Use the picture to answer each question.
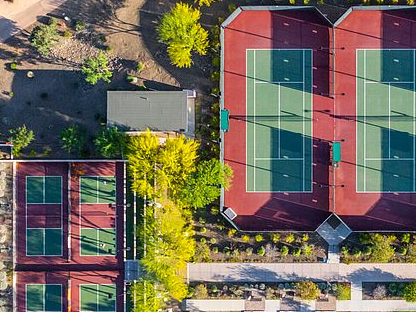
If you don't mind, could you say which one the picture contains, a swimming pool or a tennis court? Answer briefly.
tennis court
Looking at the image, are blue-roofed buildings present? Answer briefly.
No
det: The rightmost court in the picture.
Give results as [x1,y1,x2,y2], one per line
[334,11,416,231]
